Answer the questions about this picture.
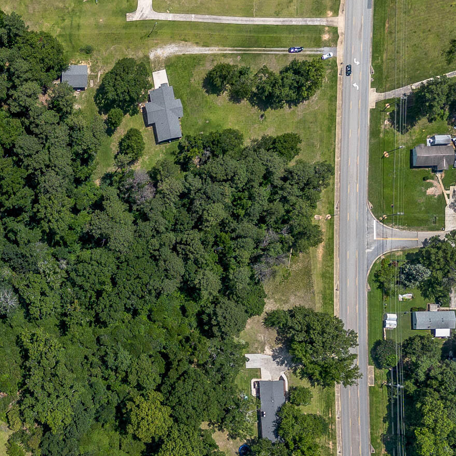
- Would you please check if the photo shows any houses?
Yes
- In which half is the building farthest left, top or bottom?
top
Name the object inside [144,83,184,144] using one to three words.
house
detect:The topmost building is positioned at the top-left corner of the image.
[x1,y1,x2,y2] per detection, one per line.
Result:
[62,64,87,90]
